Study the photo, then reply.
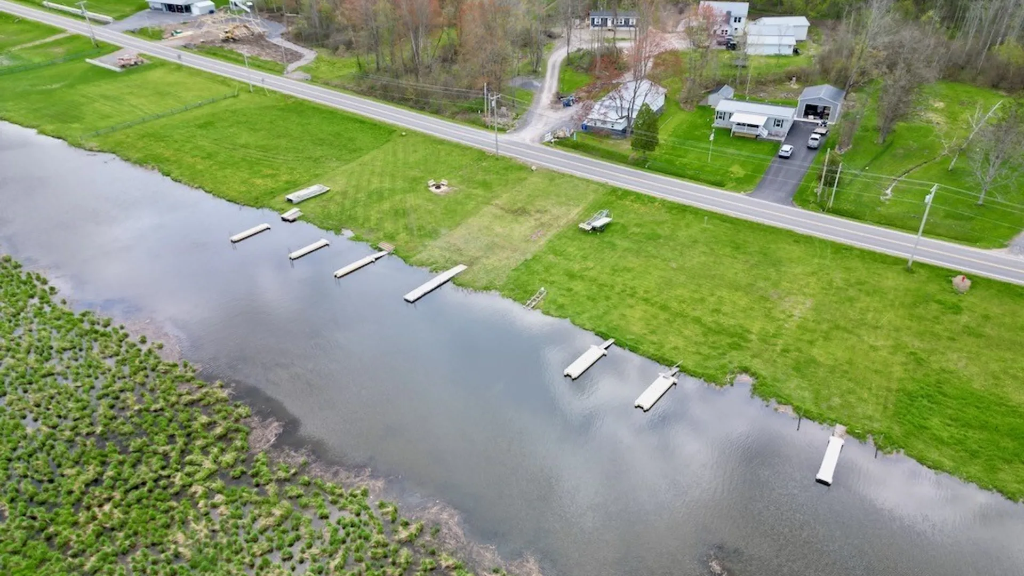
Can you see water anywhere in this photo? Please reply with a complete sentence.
Yes, water can be seen from above here.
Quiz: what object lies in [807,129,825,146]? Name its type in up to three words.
vehicle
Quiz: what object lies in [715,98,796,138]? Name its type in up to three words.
house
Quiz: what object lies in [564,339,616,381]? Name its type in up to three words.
pier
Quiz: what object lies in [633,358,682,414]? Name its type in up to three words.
pier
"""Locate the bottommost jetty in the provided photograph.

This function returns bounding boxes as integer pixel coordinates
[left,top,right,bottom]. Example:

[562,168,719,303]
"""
[813,431,848,488]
